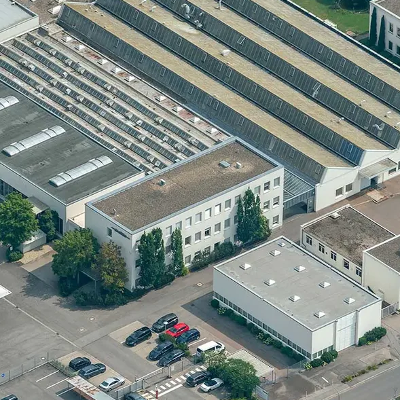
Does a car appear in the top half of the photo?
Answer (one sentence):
No, the scene shows no car in the top half of the photo.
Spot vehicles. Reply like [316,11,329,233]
[176,327,202,342]
[152,311,179,331]
[167,319,192,334]
[157,347,187,366]
[123,392,146,400]
[77,363,107,380]
[67,355,93,371]
[198,378,222,394]
[125,326,154,345]
[195,337,227,354]
[149,341,175,359]
[98,377,126,394]
[184,369,213,387]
